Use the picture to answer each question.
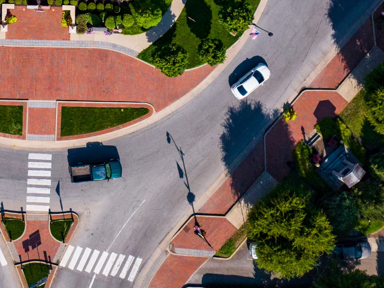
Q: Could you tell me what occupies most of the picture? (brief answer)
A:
paved ground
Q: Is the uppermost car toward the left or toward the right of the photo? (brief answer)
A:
right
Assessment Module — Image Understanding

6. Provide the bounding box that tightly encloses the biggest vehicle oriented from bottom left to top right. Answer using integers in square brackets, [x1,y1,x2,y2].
[233,63,272,102]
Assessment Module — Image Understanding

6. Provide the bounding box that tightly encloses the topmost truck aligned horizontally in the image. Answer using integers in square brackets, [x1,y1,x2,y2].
[70,160,121,183]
